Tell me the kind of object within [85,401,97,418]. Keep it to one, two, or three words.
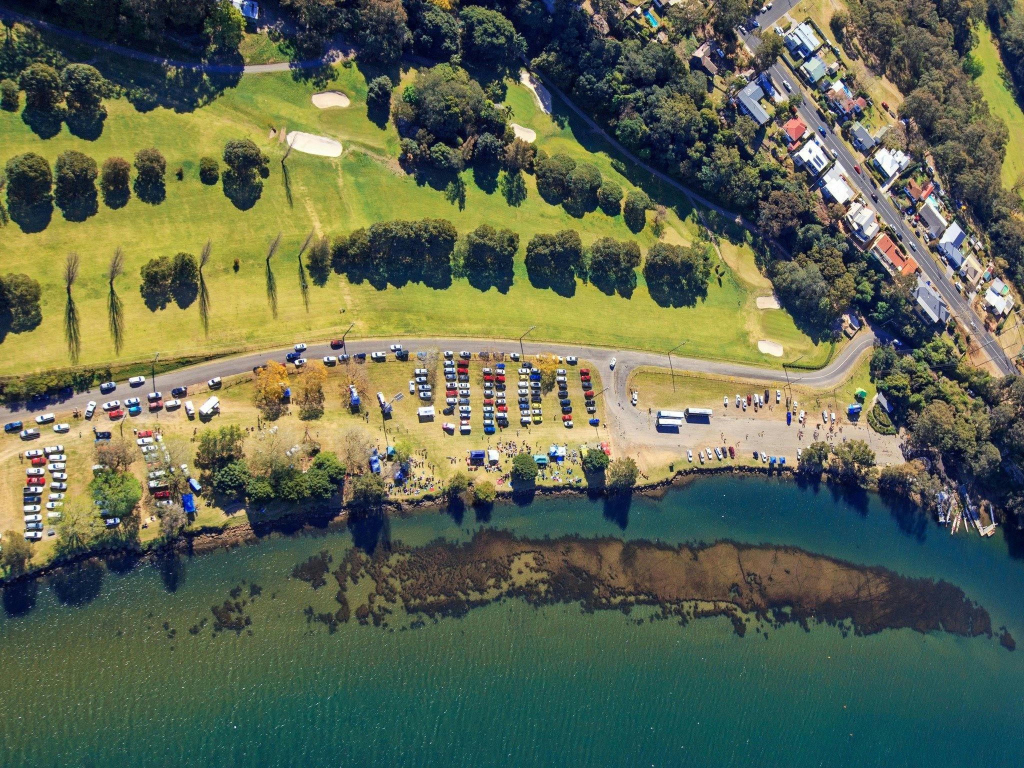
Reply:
vehicle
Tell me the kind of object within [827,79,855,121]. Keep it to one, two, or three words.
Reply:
house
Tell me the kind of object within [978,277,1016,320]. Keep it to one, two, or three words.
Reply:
house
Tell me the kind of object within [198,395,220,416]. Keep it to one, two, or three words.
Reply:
camper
